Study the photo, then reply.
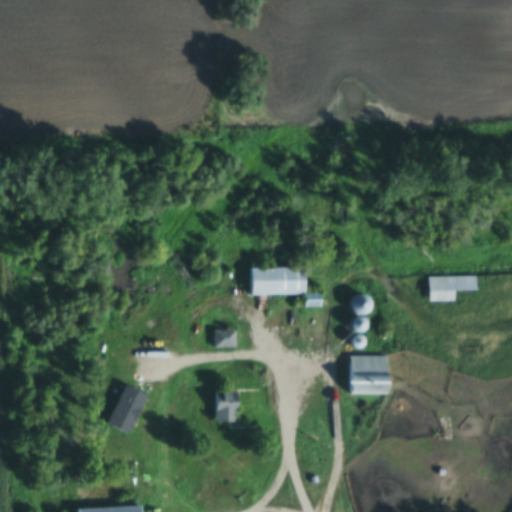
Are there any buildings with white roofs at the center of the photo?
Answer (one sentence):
Yes, a building with a white roof shows up at the center of the photo.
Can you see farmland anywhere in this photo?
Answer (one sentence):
Yes, there is farmland in the image.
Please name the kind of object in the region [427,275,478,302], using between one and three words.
shed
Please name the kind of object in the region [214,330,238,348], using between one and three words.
building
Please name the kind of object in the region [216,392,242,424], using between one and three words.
house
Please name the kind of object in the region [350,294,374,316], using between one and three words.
silo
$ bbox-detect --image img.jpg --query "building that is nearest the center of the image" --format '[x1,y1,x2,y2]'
[248,264,306,296]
